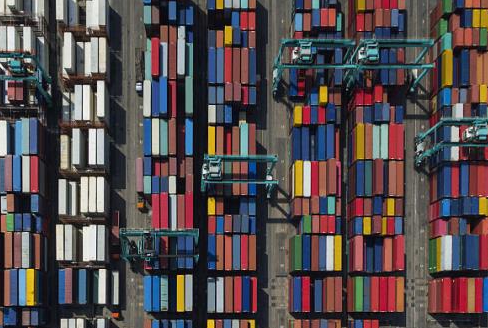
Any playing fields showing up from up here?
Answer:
No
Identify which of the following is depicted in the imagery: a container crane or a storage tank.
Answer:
container crane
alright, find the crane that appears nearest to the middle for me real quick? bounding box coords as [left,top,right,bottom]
[201,153,280,200]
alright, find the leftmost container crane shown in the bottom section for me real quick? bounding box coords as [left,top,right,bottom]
[119,230,204,267]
